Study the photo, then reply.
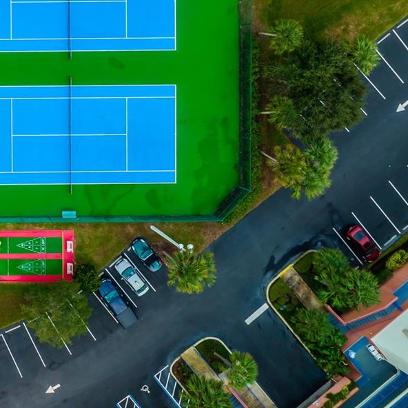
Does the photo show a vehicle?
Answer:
Yes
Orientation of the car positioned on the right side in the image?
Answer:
at an angle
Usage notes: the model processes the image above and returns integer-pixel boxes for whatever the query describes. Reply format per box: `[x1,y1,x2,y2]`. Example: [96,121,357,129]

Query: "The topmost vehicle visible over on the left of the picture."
[129,234,165,276]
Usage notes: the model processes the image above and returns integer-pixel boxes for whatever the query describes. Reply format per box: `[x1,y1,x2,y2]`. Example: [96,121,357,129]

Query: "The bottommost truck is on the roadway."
[95,278,140,329]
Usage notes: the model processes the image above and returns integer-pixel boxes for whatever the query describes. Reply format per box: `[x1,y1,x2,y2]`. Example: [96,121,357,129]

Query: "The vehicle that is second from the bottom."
[113,255,153,299]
